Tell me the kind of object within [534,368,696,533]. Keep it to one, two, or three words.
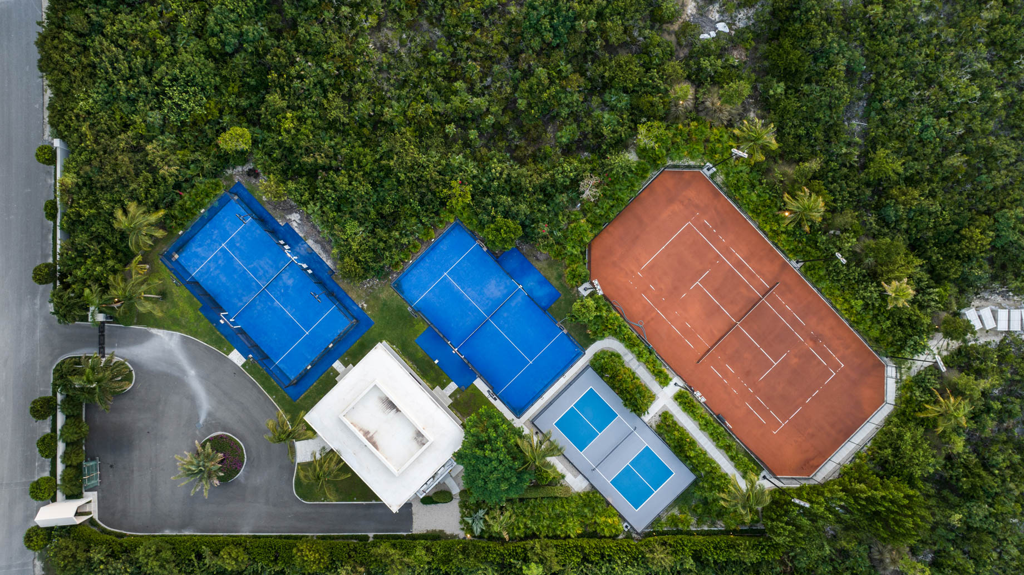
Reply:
sports court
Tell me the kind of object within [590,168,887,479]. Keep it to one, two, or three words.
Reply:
tennis court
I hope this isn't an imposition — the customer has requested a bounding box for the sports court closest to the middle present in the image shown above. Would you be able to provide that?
[393,221,582,413]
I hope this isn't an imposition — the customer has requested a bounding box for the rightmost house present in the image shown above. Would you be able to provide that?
[303,339,467,514]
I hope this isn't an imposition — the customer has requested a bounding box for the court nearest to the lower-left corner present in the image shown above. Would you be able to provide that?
[160,182,374,401]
